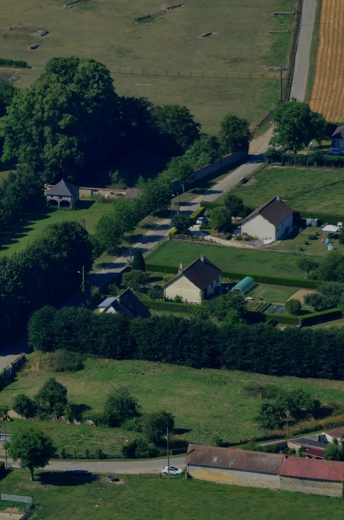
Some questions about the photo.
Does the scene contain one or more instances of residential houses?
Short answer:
Yes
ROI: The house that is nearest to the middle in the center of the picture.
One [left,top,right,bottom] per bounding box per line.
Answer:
[163,249,218,303]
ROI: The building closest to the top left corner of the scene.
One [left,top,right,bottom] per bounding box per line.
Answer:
[45,178,78,208]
